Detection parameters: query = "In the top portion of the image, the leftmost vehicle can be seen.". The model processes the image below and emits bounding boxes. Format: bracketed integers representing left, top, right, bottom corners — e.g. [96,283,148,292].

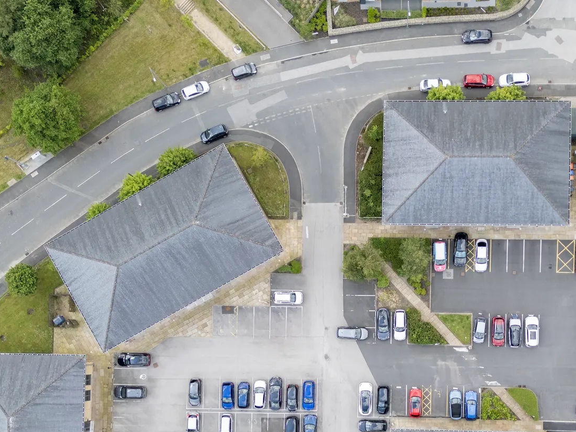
[151,93,181,112]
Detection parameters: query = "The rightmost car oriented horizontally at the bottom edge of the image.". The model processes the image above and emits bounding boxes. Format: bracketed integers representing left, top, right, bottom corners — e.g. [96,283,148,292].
[358,419,388,432]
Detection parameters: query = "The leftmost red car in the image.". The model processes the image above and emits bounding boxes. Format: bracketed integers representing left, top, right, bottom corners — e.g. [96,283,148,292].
[408,388,424,418]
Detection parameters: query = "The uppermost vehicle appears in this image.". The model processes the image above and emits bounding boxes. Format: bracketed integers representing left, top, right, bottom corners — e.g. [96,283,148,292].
[461,28,493,44]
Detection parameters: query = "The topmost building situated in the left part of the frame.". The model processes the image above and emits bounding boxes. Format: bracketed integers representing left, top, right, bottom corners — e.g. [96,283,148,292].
[42,142,285,354]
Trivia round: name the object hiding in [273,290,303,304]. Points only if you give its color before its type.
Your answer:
white car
